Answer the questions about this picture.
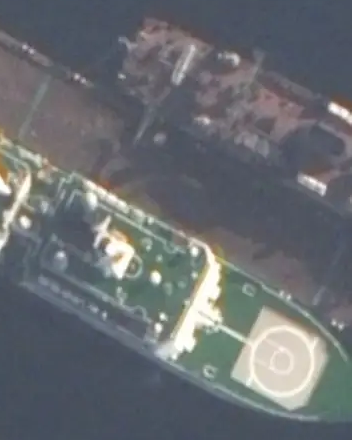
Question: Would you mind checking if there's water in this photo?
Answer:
Yes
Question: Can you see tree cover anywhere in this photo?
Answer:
No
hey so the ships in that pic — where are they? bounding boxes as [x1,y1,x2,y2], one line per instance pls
[118,16,352,220]
[0,132,352,421]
